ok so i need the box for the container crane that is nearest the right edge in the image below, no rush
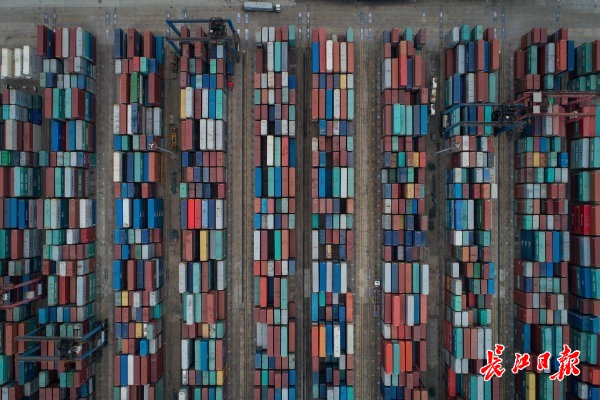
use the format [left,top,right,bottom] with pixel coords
[506,92,597,126]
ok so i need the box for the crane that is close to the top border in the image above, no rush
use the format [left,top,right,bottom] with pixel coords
[164,15,240,59]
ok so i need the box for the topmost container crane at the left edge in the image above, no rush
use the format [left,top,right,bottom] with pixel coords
[0,276,46,310]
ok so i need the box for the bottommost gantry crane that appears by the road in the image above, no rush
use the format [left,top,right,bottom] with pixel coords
[15,320,106,365]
